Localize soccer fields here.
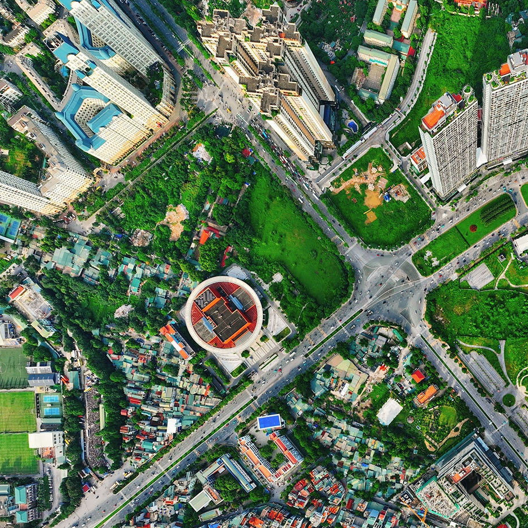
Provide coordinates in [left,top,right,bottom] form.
[0,348,30,388]
[0,434,38,475]
[0,391,36,432]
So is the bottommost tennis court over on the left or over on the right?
left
